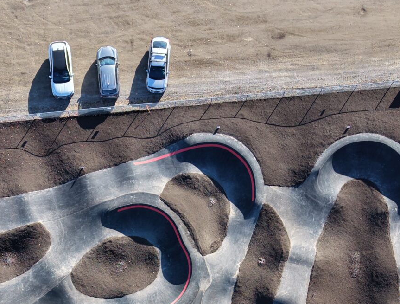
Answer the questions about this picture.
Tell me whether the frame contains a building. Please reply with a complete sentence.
No, no building is visible in the scene.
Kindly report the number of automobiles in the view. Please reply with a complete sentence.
The number of automobiles here is 3.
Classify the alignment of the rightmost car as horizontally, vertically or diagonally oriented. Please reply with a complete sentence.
The rightmost car has been laid out vertically relative to the frame.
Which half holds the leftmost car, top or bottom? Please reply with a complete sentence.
Seen from above, the leftmost car lies in the top half of the view.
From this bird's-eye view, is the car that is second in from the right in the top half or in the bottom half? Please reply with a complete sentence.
The top half of the photo is where the car that is second in from the right is.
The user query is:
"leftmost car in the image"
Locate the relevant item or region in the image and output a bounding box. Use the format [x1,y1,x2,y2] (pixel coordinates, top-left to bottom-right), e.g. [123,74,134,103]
[48,39,75,99]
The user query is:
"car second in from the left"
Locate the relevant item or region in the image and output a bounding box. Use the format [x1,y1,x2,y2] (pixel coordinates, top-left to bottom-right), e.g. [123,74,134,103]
[94,43,122,97]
